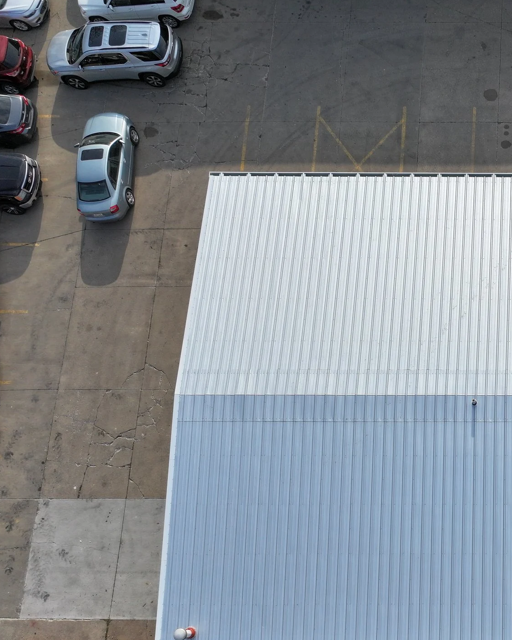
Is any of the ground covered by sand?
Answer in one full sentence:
No, sand can't be seen anywhere here.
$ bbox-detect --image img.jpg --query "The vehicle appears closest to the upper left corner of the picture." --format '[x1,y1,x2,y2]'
[0,0,50,32]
